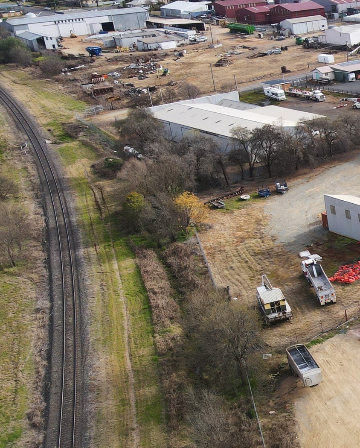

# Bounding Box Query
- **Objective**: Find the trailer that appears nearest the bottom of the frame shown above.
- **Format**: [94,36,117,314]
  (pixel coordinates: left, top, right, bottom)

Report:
[279,334,322,378]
